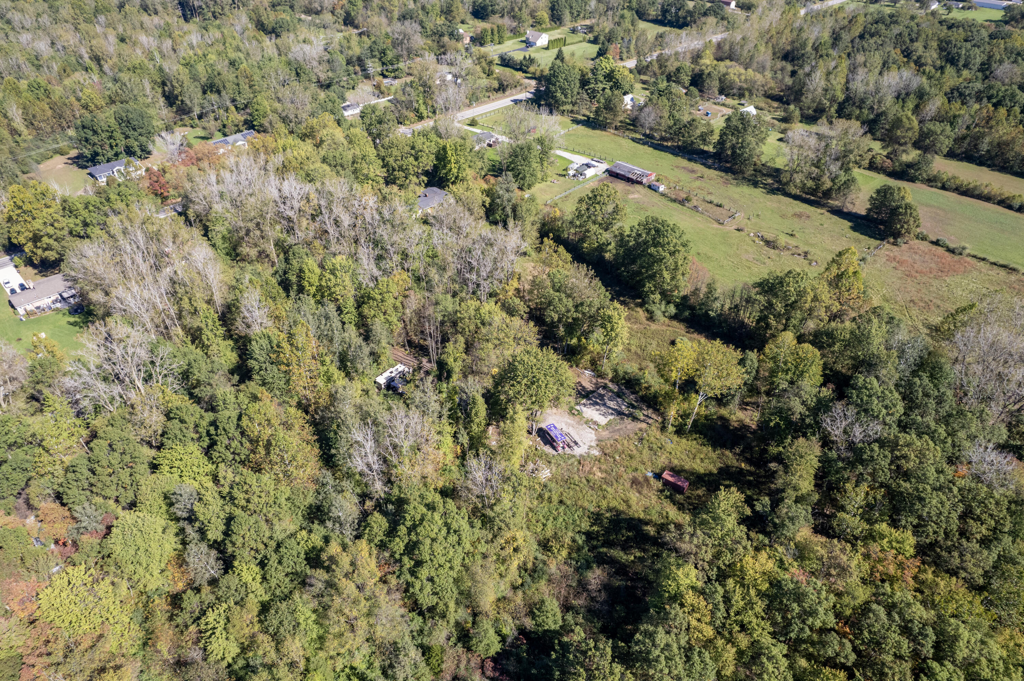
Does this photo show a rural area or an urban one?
rural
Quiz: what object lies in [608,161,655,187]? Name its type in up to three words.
barn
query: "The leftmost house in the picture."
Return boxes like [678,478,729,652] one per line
[9,273,77,314]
